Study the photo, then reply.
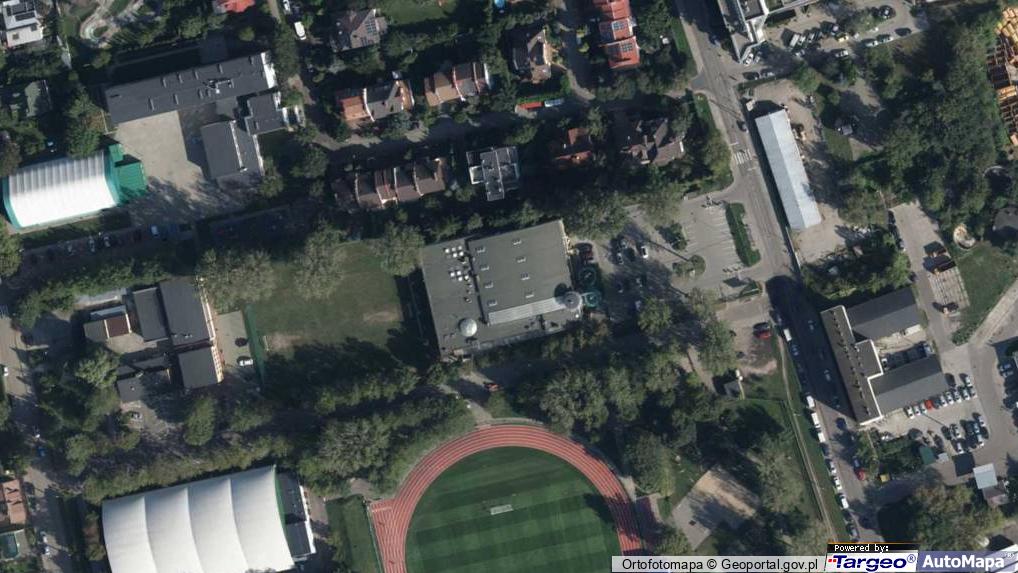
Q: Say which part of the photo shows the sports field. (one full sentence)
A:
Look in the bottom portion of the view to spot the sports field.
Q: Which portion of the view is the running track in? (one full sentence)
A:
You can find the running track in the bottom area of the picture.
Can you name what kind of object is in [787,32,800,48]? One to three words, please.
vehicle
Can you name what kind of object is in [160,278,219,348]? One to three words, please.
building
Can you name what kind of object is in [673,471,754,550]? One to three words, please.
sports court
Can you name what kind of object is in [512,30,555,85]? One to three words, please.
house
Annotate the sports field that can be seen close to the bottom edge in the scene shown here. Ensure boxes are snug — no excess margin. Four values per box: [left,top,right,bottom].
[408,447,620,573]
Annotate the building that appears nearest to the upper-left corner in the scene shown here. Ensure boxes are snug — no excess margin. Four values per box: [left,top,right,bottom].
[2,0,46,47]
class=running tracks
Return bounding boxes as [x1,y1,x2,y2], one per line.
[377,421,661,573]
